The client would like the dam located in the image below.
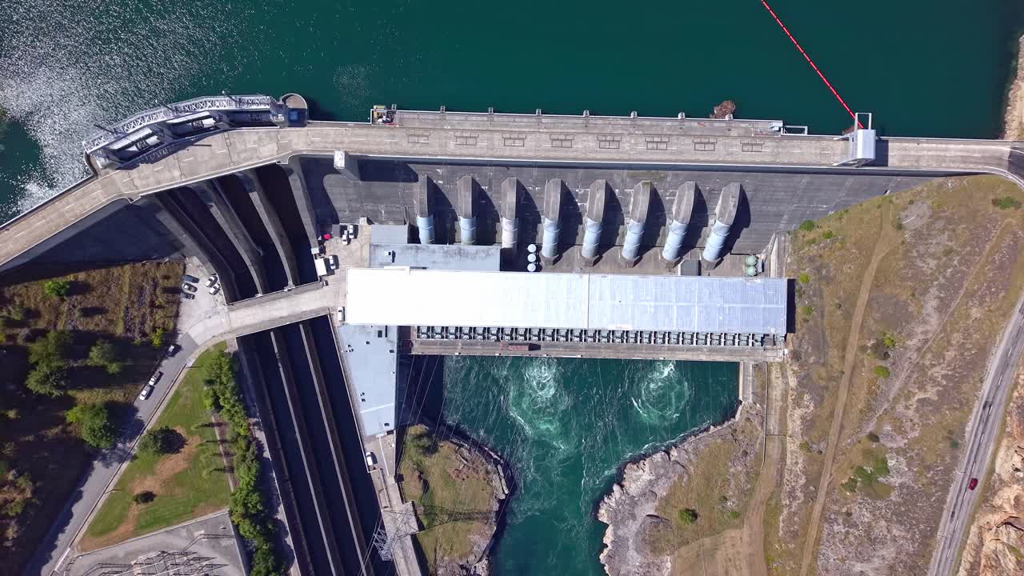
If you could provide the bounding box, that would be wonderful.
[0,92,1024,287]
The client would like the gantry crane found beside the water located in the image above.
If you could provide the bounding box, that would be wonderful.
[832,112,880,165]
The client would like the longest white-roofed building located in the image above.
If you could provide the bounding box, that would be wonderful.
[345,268,788,362]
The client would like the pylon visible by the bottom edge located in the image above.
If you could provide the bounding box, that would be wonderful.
[374,506,415,557]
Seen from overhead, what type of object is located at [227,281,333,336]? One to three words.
bridge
